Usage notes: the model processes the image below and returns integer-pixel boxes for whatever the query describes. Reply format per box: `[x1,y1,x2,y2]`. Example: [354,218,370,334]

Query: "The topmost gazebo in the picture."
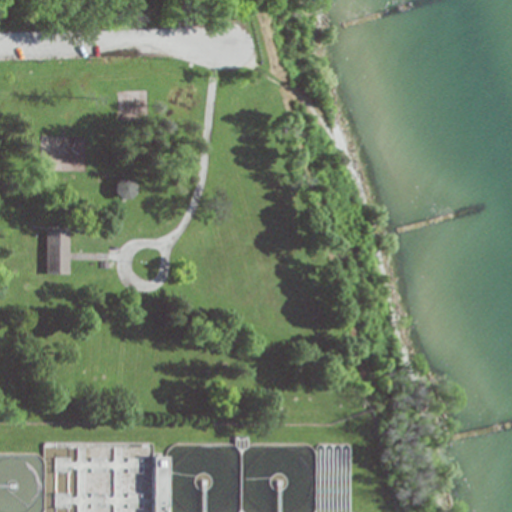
[118,180,138,200]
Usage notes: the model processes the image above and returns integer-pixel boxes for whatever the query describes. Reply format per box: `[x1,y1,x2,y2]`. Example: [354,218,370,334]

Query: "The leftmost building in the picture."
[46,233,70,274]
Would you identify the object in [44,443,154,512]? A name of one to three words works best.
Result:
storage tank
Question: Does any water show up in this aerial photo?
Yes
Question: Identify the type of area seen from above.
industrial area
